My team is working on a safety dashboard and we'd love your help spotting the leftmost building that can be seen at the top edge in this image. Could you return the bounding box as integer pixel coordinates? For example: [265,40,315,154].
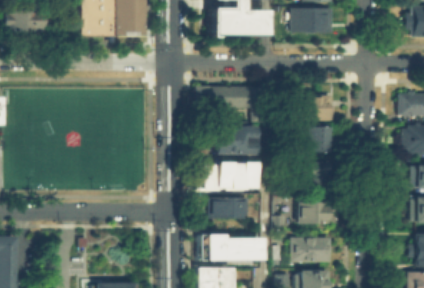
[2,12,48,32]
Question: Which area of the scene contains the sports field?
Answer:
left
